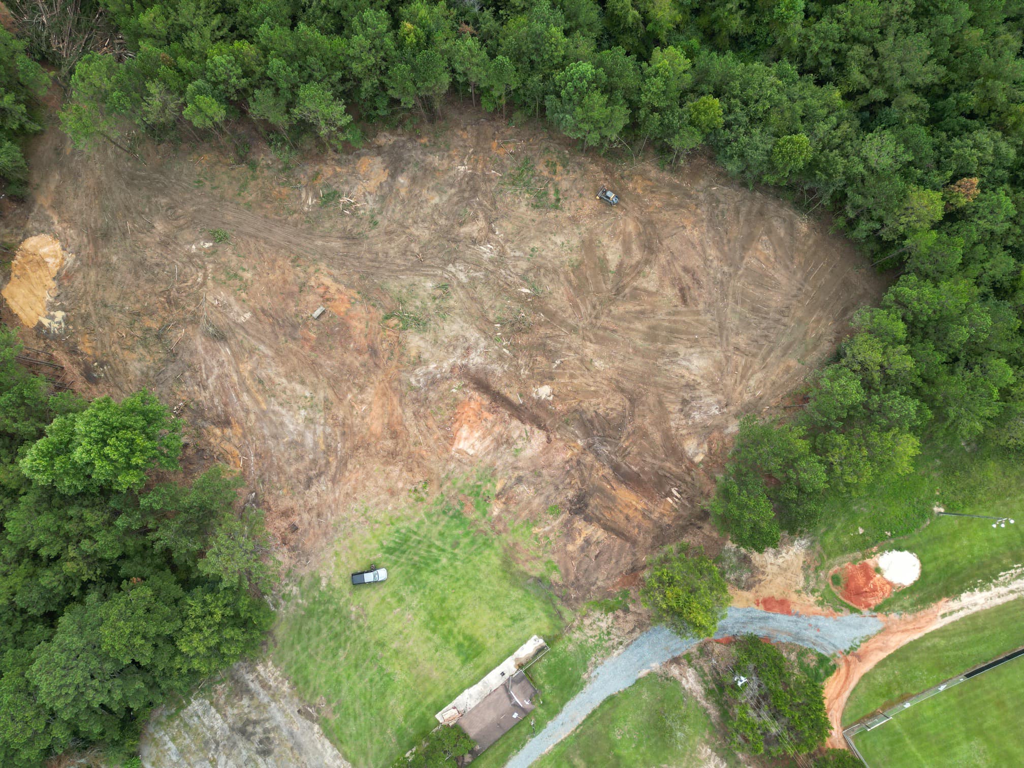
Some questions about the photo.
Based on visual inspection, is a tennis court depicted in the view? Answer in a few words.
No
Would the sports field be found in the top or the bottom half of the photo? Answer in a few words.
bottom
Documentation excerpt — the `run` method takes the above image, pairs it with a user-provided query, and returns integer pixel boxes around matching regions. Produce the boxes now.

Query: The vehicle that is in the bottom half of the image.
[351,568,388,586]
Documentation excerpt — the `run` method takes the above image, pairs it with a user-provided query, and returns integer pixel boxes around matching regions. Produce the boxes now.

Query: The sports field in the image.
[815,428,1024,768]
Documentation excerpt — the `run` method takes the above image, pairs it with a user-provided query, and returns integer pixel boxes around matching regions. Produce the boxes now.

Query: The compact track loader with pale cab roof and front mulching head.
[595,186,619,205]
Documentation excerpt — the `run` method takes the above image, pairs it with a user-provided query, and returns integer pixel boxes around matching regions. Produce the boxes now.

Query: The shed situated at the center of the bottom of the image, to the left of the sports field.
[459,665,537,753]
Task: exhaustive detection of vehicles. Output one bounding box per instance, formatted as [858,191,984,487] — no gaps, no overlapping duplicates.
[351,568,388,586]
[595,186,619,205]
